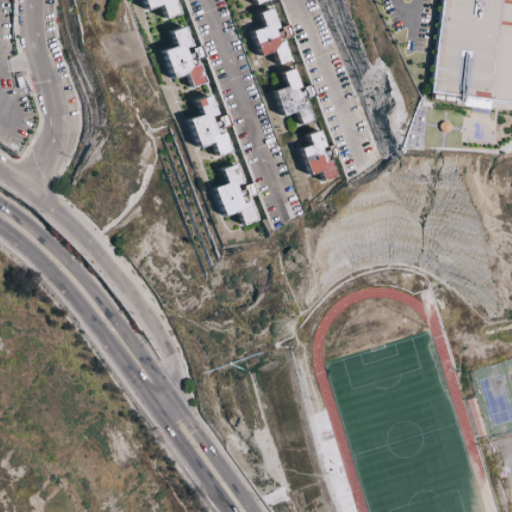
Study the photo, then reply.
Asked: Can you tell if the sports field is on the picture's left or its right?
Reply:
right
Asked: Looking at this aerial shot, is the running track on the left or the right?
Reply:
right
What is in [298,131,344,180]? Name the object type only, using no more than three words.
building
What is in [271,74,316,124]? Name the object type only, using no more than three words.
building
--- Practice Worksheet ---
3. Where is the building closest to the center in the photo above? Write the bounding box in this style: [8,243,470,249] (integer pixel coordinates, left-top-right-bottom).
[211,164,260,226]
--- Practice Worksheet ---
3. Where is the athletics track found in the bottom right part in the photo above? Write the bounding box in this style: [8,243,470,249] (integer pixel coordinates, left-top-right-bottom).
[314,276,496,512]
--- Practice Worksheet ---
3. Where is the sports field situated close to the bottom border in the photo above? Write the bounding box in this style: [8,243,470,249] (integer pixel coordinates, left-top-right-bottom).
[327,332,483,512]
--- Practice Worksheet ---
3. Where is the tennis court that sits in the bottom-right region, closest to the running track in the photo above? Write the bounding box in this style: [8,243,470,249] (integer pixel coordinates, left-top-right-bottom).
[472,360,512,436]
